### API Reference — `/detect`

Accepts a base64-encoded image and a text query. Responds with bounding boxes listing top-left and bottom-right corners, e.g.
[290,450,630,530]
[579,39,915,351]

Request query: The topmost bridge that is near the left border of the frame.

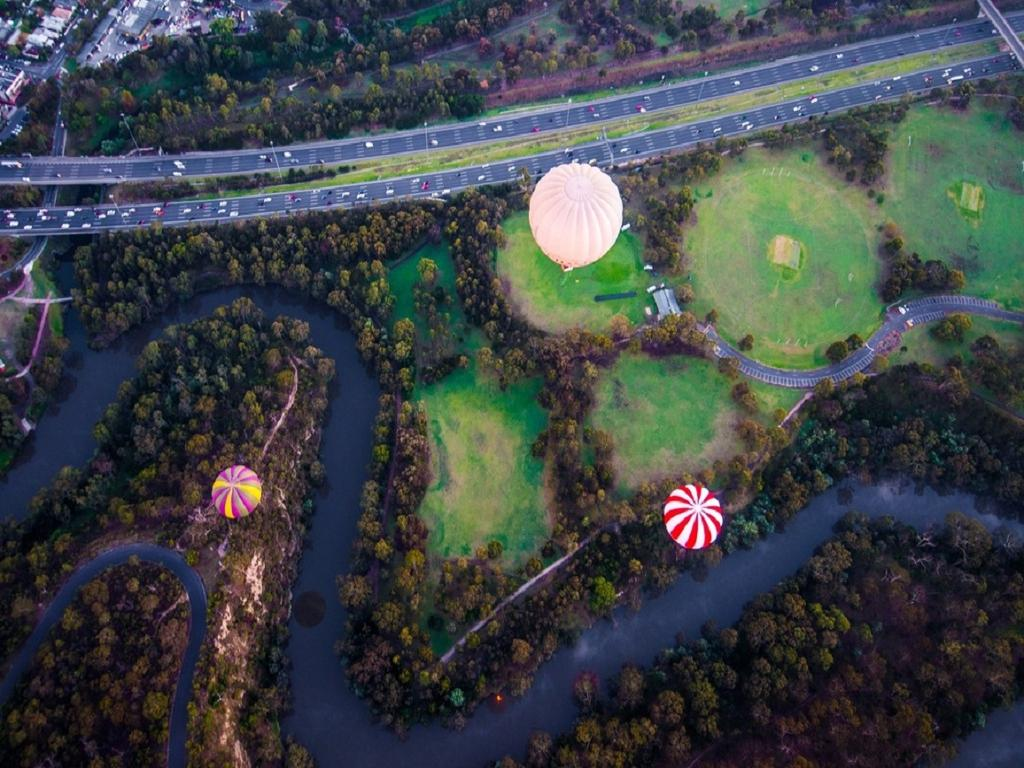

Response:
[0,150,208,190]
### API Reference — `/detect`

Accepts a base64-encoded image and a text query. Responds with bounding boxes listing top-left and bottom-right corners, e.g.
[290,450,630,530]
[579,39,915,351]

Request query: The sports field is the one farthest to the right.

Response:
[880,103,1024,300]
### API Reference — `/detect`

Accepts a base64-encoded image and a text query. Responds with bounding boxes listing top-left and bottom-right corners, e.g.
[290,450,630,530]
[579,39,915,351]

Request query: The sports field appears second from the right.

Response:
[686,147,882,357]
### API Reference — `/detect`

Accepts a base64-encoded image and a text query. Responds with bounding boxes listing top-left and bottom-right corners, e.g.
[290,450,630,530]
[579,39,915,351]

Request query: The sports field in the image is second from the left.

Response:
[497,213,648,334]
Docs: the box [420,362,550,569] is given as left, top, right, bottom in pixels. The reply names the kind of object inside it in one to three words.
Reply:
sports field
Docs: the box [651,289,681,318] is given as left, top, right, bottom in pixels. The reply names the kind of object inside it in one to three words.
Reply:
building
